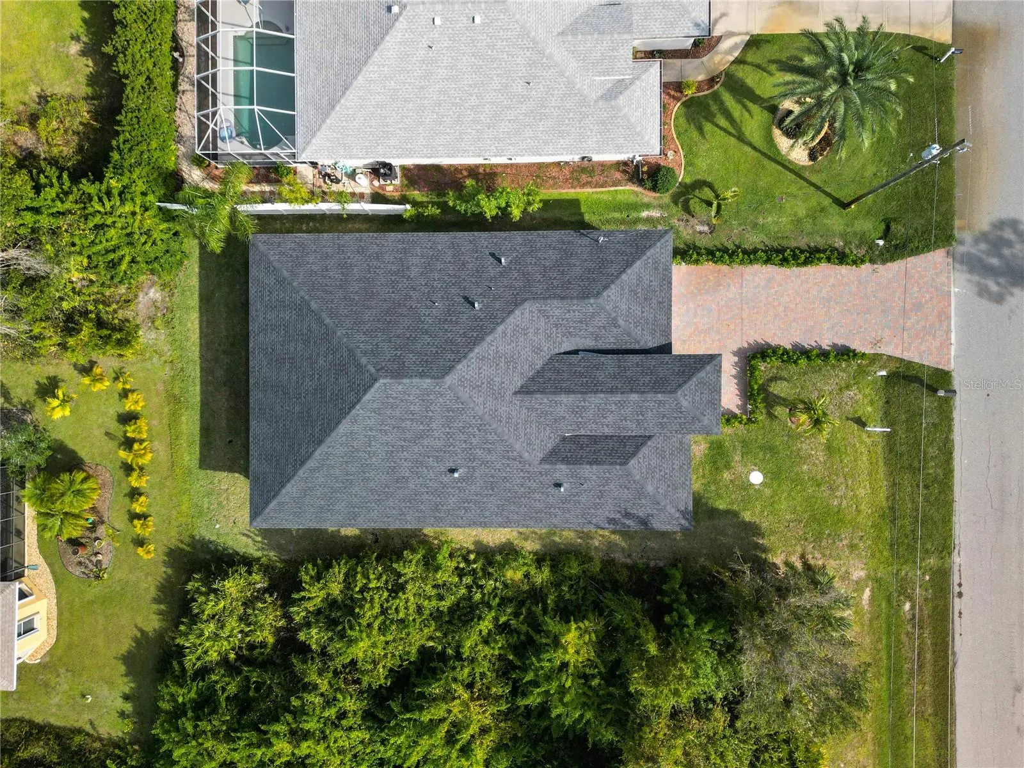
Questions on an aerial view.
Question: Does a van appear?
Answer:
No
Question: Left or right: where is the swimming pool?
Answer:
left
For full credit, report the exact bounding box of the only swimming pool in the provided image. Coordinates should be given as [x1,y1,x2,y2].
[218,0,321,166]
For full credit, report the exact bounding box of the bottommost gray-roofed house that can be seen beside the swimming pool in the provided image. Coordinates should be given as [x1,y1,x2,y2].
[248,229,724,533]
